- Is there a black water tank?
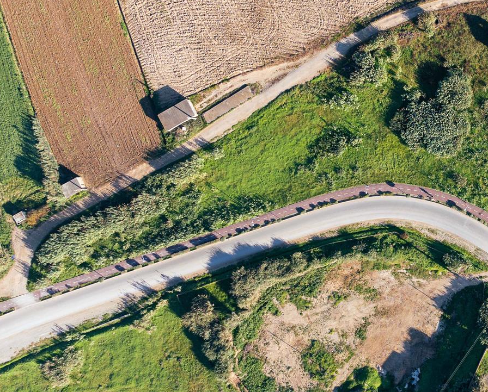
No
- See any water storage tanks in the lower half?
No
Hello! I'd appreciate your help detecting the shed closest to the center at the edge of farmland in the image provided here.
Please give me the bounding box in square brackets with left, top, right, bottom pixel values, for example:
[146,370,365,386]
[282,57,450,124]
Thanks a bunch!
[157,97,199,132]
